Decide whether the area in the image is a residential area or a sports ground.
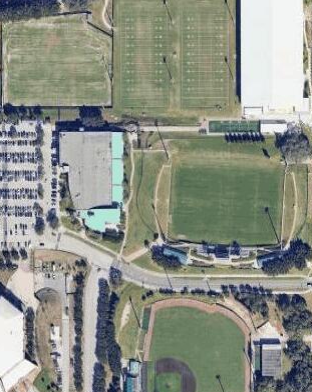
sports ground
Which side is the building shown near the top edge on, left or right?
right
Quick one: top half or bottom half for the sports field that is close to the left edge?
top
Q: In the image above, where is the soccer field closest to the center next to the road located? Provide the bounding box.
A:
[163,140,284,245]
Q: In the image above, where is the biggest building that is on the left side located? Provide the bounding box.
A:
[59,132,123,233]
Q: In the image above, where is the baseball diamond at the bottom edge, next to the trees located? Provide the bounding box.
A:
[142,299,251,392]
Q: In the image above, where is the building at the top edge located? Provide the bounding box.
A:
[240,0,302,112]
